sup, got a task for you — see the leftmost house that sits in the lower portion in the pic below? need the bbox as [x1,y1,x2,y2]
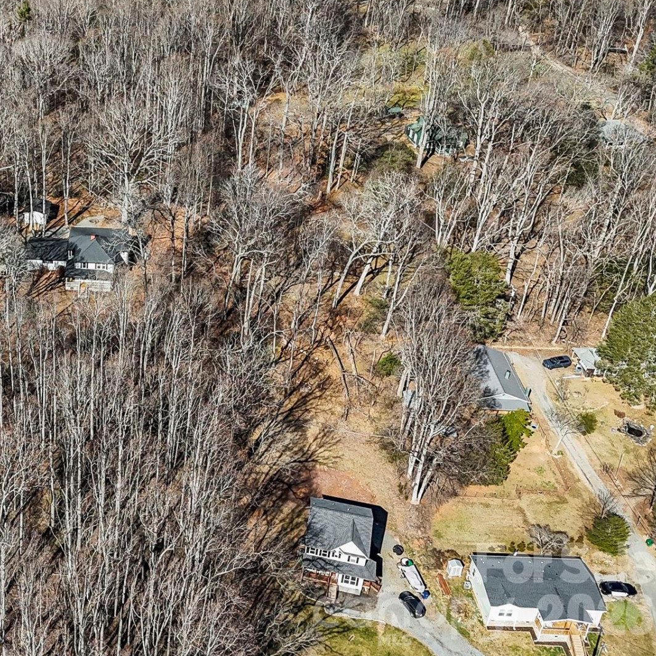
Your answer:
[293,500,375,606]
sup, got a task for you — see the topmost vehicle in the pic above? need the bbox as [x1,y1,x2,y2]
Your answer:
[543,353,573,367]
